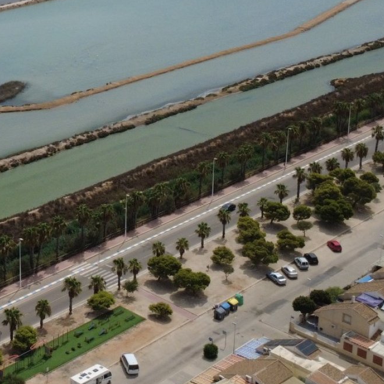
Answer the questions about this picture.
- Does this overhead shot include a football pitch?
No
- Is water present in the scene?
Yes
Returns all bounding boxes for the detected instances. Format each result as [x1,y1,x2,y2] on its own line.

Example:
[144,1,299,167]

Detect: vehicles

[323,241,346,253]
[290,256,314,273]
[265,273,290,288]
[120,353,141,375]
[277,265,302,280]
[69,360,112,384]
[300,252,324,267]
[218,203,237,213]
